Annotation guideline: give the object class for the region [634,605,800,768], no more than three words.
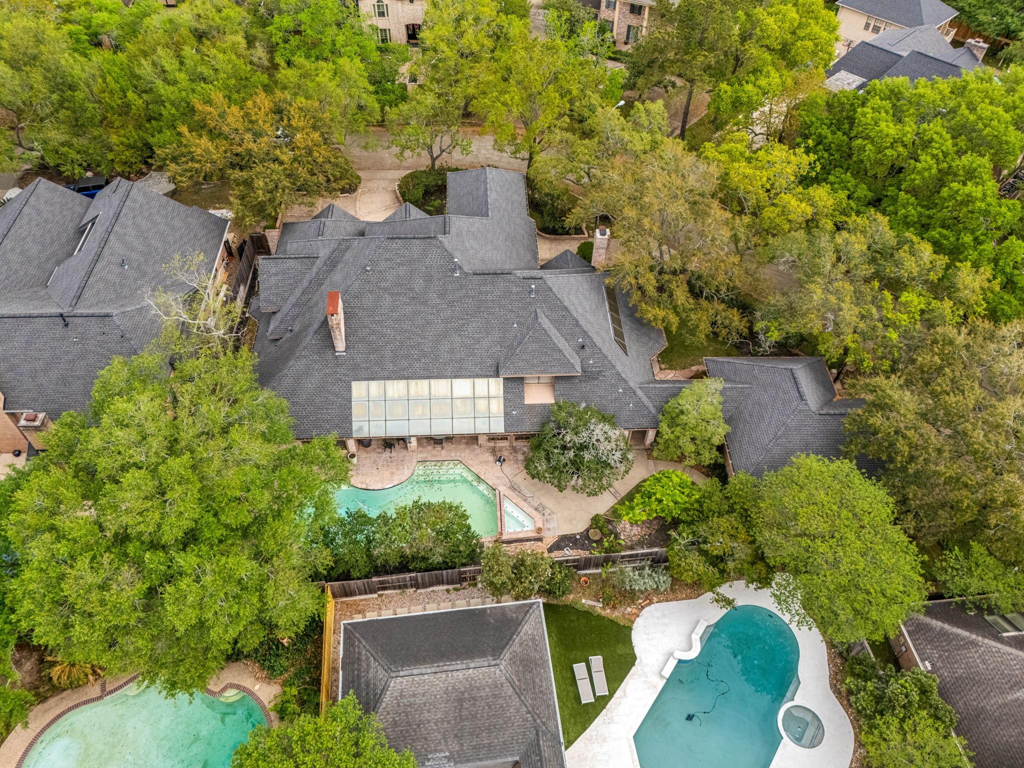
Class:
swimming pool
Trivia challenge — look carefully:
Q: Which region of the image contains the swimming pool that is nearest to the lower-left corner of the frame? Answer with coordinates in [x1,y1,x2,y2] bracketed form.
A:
[10,664,272,768]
